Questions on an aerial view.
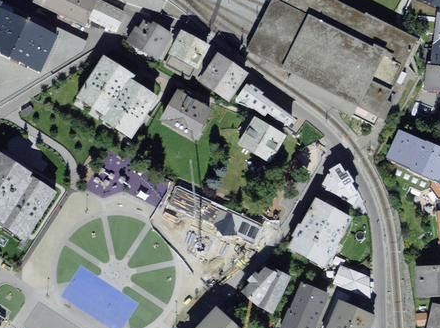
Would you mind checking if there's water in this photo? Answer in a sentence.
No, the picture contains no water.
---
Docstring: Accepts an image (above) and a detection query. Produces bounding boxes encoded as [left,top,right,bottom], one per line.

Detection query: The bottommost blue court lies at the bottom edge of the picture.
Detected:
[62,266,138,328]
